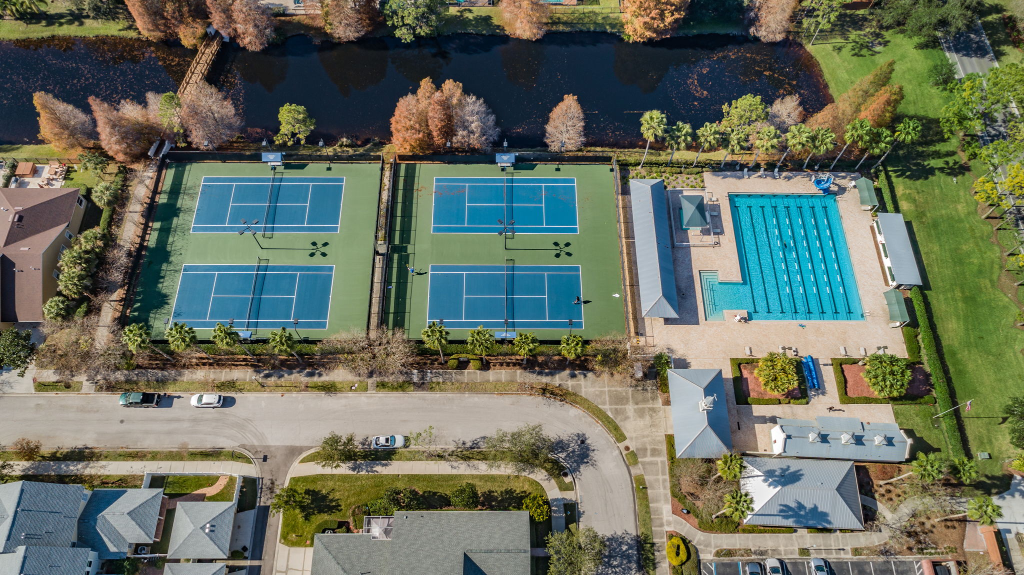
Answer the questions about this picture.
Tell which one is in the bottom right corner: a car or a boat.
car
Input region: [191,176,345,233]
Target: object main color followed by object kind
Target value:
blue tennis court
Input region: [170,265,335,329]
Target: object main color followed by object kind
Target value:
blue tennis court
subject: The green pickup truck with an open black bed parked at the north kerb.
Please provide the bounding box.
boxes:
[117,392,161,408]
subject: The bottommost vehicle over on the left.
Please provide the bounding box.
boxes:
[372,434,407,450]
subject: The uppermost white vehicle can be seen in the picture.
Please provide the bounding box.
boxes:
[190,393,223,409]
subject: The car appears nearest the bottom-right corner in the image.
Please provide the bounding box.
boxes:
[813,554,833,575]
